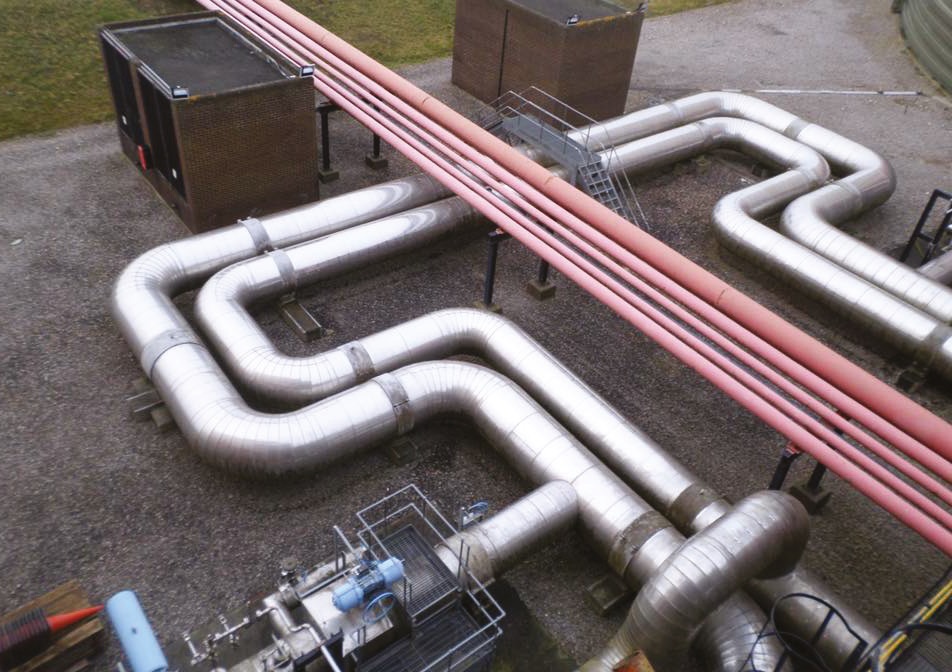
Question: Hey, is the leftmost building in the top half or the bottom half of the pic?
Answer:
top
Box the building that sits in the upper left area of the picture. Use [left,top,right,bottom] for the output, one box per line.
[98,9,316,232]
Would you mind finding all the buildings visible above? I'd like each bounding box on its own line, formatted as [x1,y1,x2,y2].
[98,9,316,232]
[452,0,647,132]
